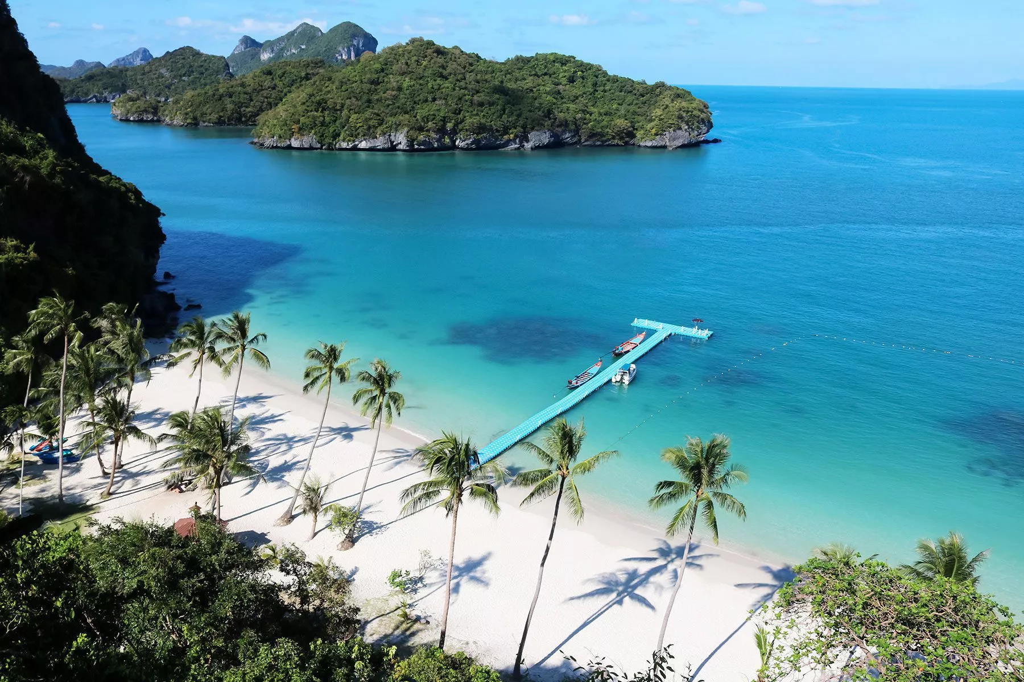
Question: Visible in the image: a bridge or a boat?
boat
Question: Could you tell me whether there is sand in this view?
Yes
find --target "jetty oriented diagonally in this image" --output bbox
[465,318,712,468]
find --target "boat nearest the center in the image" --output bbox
[561,356,602,391]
